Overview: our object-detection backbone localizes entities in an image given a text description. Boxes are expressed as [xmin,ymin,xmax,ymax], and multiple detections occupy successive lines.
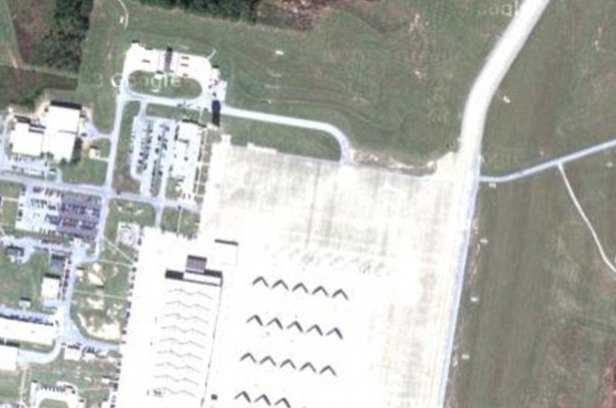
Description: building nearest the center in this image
[212,243,238,267]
